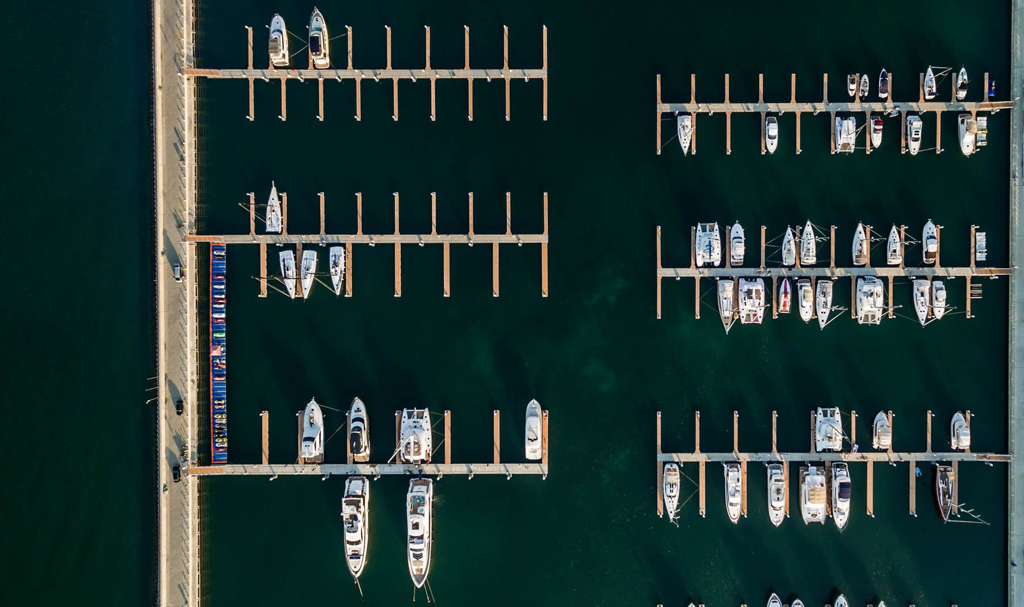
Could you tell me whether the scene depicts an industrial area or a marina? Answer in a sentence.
It's a marina.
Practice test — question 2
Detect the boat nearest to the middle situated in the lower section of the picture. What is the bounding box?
[526,397,542,459]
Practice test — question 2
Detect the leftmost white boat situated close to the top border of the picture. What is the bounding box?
[268,13,291,68]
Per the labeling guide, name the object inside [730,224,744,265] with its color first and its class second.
white boat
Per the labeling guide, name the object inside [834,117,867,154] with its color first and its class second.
white boat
